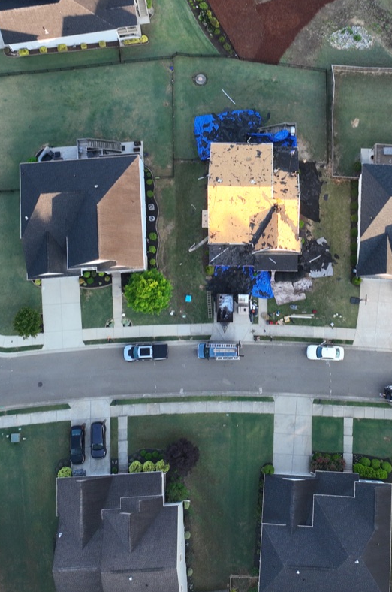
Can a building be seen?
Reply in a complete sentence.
Yes, there is a building in the image.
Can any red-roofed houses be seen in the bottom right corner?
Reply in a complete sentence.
No, in the bottom right corner there is no red-roofed house.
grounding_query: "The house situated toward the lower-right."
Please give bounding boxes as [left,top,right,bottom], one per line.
[258,471,392,592]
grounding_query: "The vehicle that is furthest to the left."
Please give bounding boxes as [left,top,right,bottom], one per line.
[69,424,87,466]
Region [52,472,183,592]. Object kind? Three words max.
house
